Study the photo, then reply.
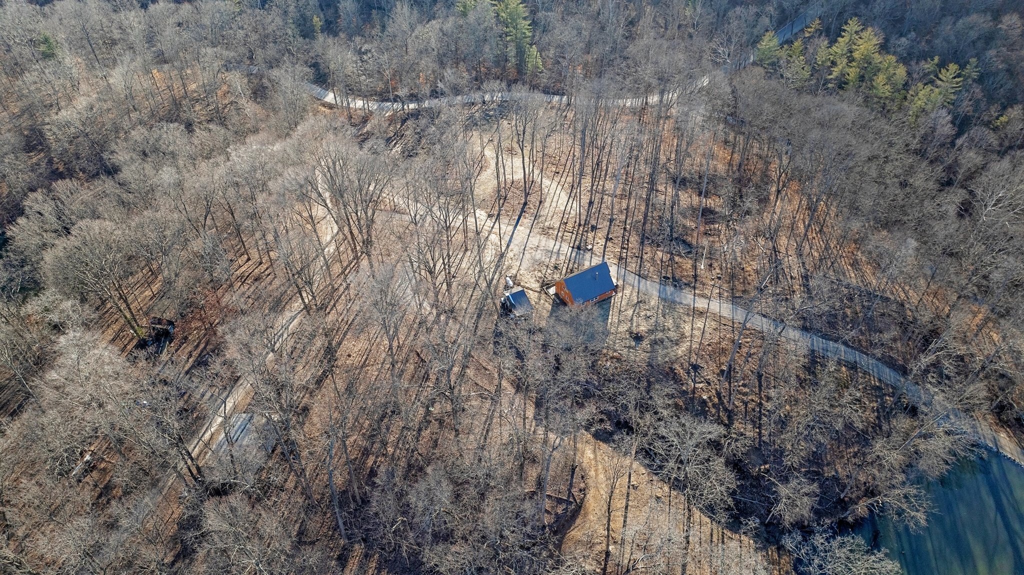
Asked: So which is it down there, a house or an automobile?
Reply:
house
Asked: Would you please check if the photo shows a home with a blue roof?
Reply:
Yes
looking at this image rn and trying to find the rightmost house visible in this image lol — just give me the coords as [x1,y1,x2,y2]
[556,262,622,316]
